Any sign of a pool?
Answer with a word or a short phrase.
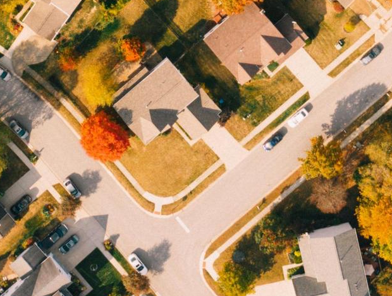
No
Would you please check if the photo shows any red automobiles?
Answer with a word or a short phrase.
No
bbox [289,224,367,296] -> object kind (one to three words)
house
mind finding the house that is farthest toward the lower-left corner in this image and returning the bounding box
[0,239,77,296]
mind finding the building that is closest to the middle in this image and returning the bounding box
[113,58,225,146]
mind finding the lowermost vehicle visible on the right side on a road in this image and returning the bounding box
[262,131,284,150]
